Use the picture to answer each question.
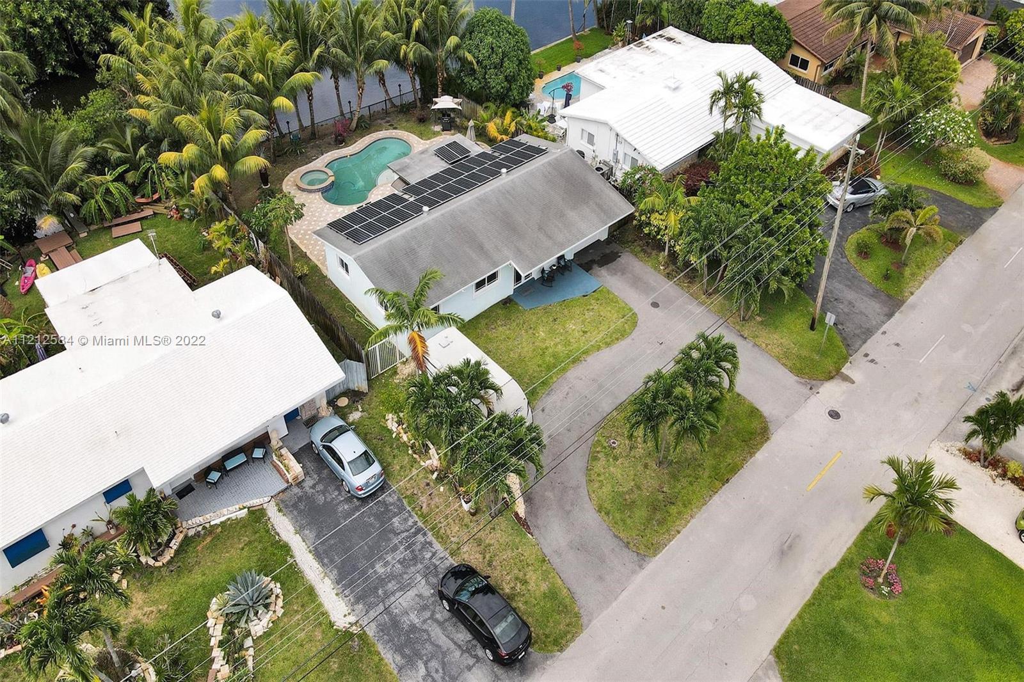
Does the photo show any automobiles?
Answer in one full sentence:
Yes, the photo shows an automobile.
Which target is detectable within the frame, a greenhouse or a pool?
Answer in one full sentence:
Visible in the photo is a pool.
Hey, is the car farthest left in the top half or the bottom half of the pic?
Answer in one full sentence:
The car farthest left sits in the bottom half of the picture.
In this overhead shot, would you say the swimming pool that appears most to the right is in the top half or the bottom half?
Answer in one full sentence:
You can find the swimming pool that appears most to the right in the top half.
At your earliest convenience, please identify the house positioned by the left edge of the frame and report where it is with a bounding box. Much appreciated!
[0,239,346,593]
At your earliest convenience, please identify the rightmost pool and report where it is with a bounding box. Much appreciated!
[539,60,598,99]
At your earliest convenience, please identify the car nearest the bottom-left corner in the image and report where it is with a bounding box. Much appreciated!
[309,414,387,500]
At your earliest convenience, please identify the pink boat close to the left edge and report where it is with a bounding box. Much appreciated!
[18,255,35,291]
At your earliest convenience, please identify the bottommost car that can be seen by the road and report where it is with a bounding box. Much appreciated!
[440,562,536,671]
